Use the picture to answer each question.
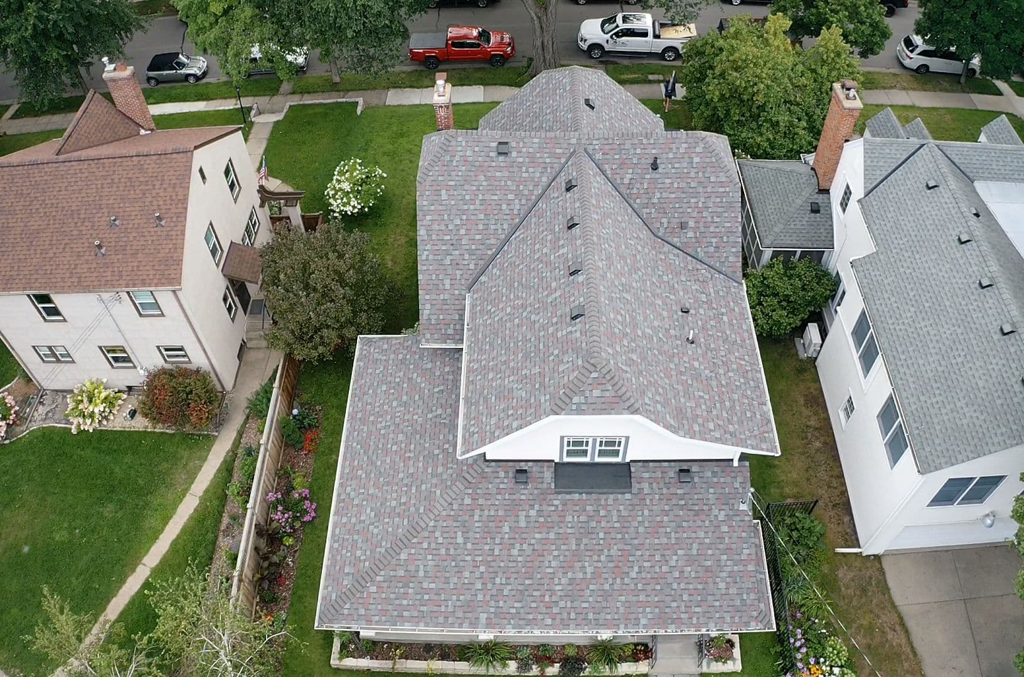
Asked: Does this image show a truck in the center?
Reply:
No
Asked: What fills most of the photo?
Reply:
buildings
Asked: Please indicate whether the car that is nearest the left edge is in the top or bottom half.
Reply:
top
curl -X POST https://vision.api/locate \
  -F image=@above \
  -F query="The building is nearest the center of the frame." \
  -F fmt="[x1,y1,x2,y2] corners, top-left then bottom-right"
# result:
[308,59,786,648]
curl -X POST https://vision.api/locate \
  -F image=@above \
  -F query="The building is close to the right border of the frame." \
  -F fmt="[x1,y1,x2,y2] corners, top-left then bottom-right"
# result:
[739,71,1024,555]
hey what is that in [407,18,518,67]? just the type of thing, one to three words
truck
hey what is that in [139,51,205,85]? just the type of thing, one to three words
car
